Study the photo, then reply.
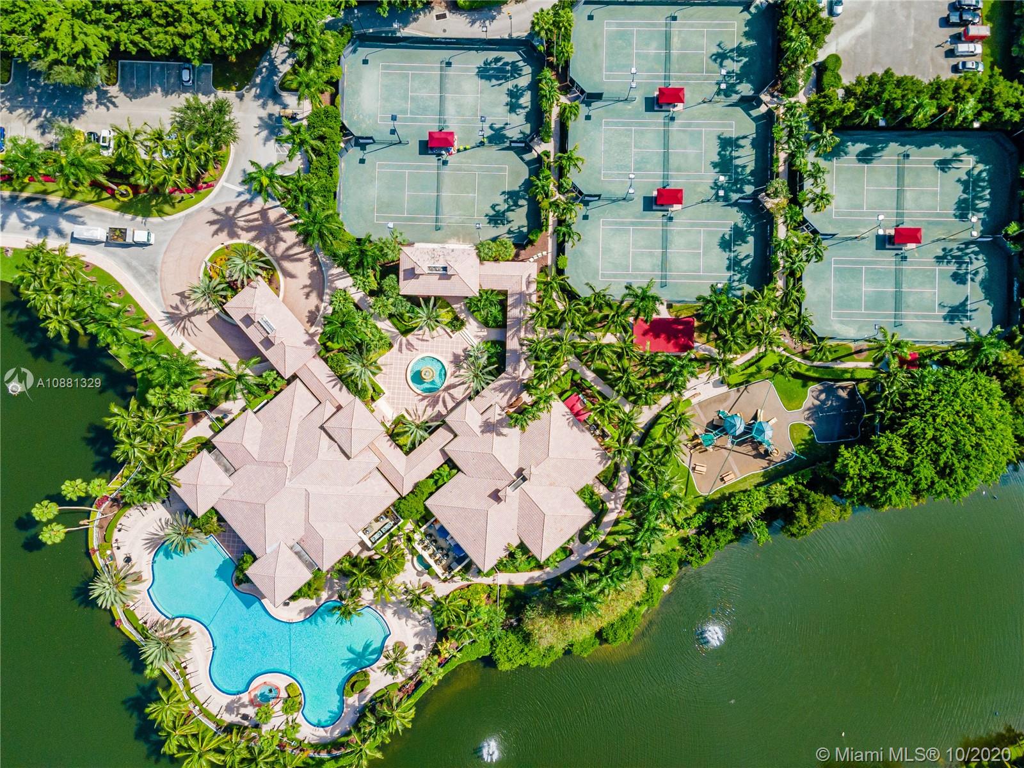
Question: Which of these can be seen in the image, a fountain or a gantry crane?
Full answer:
Visible in the photo is a fountain.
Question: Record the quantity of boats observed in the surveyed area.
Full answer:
There are no boats in this view.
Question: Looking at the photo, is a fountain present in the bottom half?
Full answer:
Yes, a fountain can be seen in the bottom half.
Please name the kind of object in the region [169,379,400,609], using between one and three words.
building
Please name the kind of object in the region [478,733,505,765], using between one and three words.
fountain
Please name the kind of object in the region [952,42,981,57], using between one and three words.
car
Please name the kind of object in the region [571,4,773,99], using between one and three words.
tennis court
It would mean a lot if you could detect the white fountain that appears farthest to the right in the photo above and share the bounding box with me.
[694,619,728,650]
